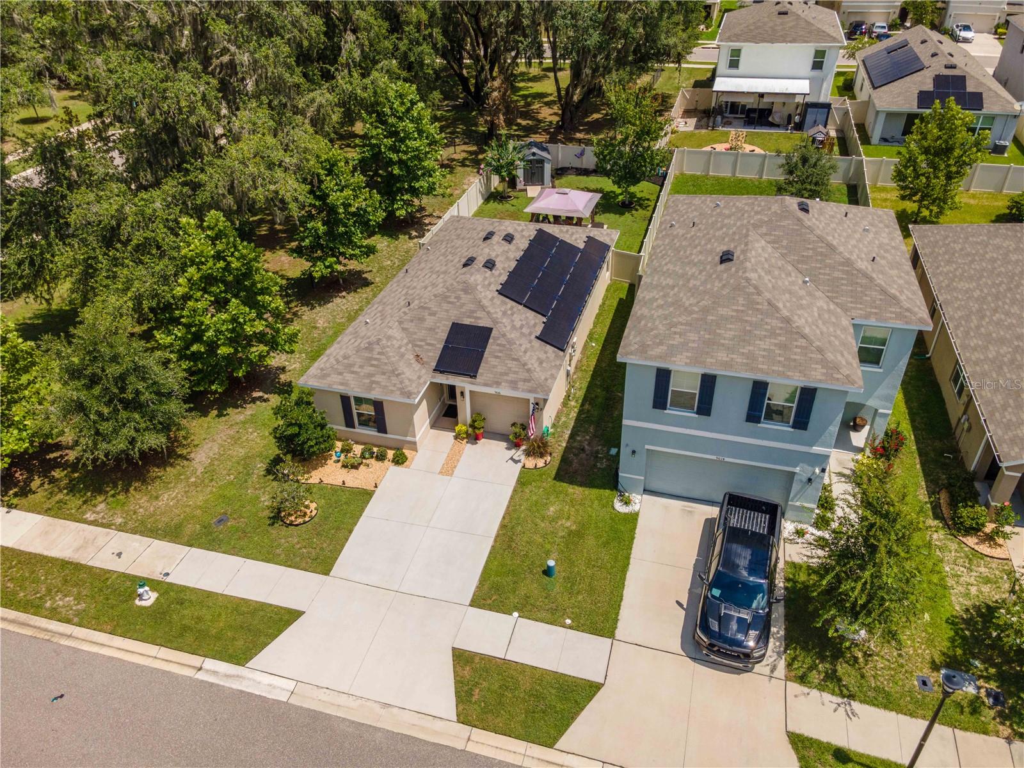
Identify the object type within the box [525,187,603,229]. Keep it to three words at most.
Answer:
gazebo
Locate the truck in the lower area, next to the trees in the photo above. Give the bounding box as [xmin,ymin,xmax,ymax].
[695,493,787,672]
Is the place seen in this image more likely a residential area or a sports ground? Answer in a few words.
residential area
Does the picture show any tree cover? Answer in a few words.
Yes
